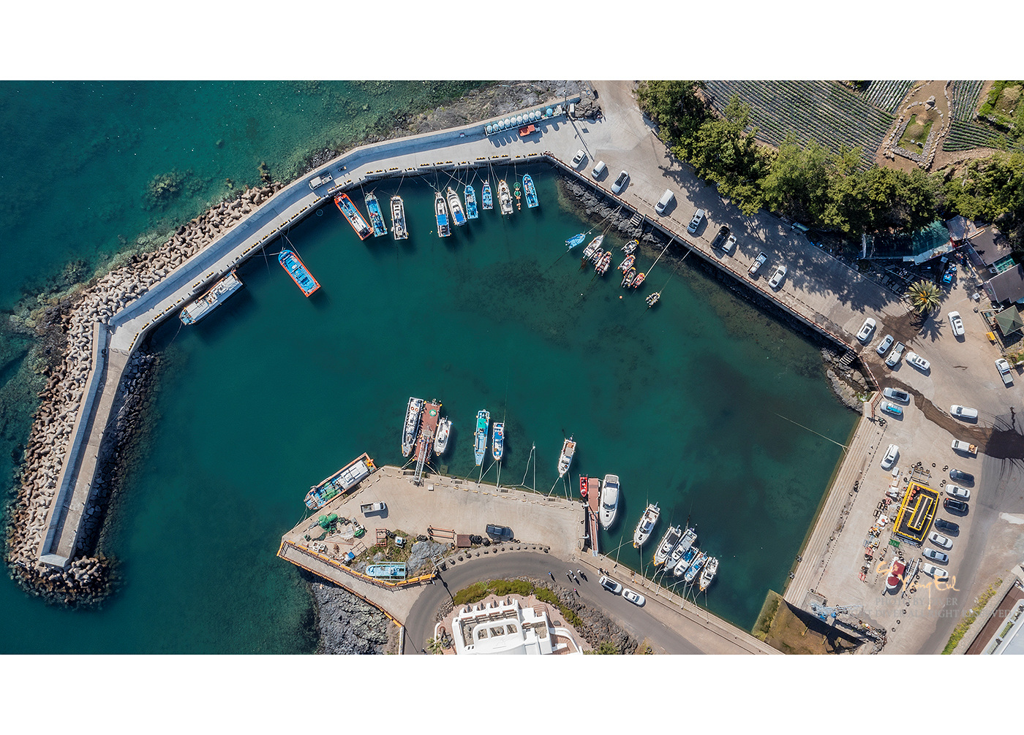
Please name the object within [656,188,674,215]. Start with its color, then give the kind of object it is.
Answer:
white vehicle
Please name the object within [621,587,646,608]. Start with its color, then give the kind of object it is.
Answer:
white car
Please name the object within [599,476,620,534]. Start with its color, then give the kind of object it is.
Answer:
white boat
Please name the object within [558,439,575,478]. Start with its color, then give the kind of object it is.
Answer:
white boat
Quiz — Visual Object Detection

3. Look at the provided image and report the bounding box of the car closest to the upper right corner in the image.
[946,311,968,337]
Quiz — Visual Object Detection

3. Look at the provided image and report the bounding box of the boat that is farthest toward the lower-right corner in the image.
[885,556,908,592]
